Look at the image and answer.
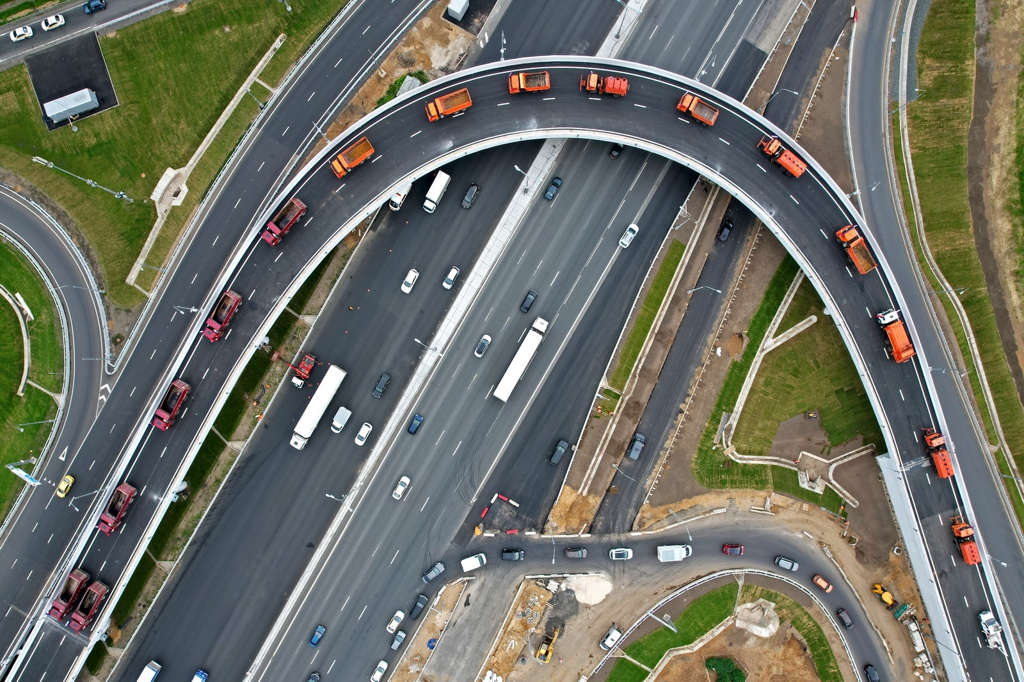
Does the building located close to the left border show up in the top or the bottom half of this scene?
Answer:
top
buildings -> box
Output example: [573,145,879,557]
[447,0,469,20]
[43,88,99,120]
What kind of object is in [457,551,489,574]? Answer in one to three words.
vehicle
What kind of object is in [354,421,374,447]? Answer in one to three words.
car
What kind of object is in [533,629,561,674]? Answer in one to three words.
work vehicle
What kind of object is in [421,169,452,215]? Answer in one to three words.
truck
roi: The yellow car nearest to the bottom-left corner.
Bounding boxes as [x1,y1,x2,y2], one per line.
[56,472,77,498]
